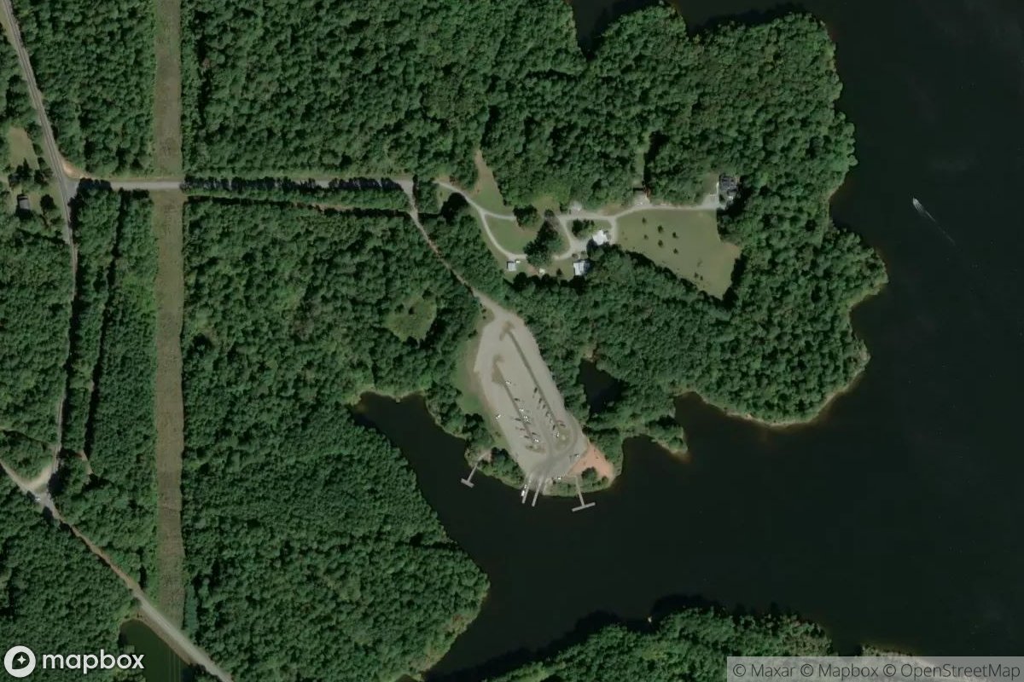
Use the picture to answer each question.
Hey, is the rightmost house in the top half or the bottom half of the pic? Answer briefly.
top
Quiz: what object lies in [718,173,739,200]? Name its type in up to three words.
house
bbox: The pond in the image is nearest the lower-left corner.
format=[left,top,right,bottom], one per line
[118,619,193,682]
